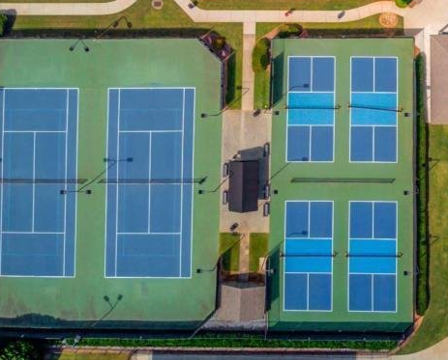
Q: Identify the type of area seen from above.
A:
sports ground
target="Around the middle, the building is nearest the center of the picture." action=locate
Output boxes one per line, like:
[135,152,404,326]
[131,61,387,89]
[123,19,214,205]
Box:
[229,161,259,214]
